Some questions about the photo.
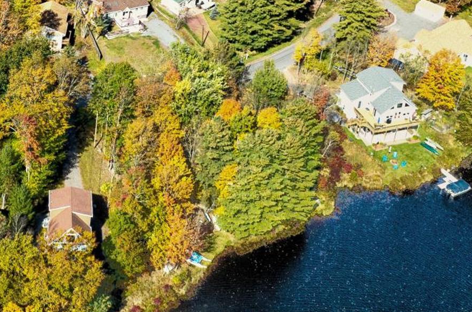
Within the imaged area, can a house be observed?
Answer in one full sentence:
Yes, there is a house in the image.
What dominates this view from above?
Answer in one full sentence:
For the most part, this view shows trees.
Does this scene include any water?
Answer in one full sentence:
Yes, there is water in the image.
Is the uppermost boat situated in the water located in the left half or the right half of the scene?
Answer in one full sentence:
It is on the right.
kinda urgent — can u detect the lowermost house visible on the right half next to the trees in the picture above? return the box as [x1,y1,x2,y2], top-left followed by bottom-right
[336,62,428,153]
